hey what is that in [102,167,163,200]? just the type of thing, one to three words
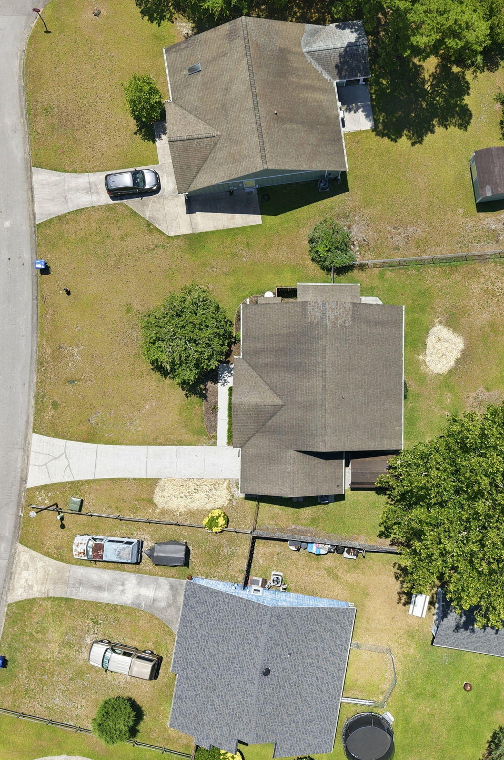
car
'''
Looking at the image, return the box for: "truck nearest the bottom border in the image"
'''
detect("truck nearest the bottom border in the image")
[89,639,163,679]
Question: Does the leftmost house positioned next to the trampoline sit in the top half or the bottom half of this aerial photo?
bottom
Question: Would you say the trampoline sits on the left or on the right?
right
